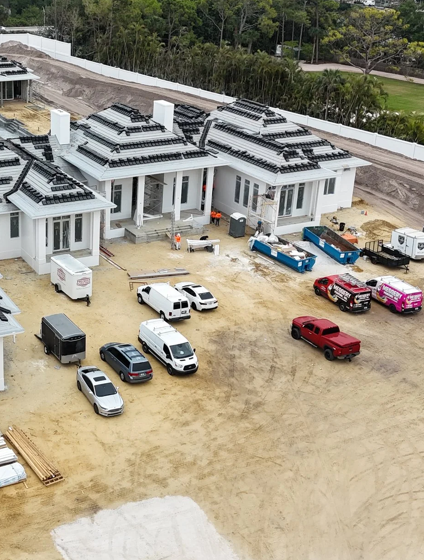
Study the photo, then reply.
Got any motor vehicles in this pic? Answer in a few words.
Yes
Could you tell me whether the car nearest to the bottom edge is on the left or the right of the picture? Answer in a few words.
left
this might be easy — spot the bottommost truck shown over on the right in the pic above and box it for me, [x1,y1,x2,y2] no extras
[285,317,364,363]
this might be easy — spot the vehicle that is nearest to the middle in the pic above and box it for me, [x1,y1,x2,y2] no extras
[172,280,215,309]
